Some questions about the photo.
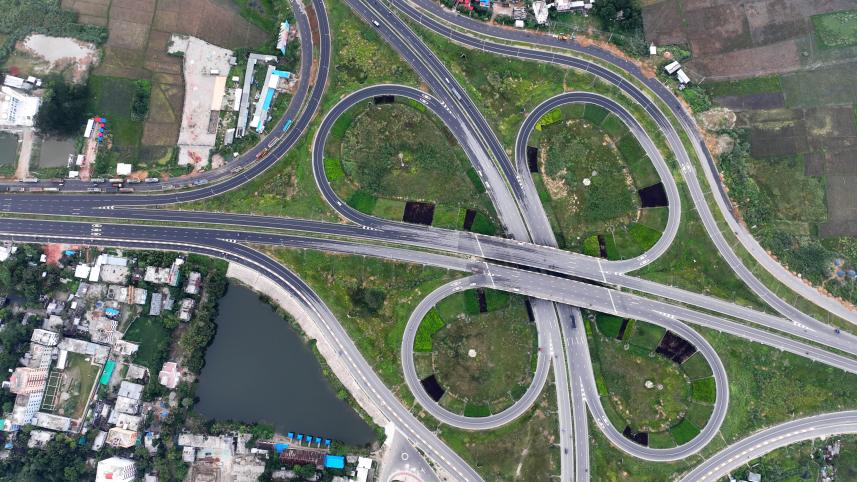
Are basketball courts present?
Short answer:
No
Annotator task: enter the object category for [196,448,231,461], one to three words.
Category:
shed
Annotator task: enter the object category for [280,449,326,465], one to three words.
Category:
shed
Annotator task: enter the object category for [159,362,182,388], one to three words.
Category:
house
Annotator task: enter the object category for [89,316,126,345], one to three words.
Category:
building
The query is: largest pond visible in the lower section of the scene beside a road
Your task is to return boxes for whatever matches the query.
[192,284,373,444]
